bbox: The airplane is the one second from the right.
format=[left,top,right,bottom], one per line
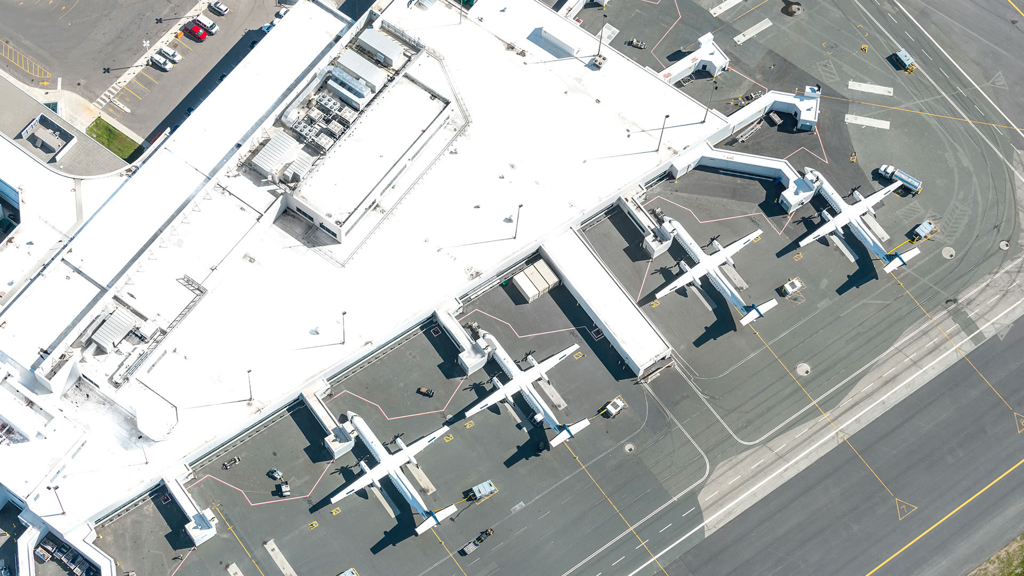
[655,216,778,326]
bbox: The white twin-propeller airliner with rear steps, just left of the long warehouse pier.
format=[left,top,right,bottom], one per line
[464,329,590,447]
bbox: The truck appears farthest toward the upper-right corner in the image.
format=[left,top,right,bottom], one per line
[893,49,917,74]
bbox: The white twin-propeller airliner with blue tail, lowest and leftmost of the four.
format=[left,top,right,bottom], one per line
[329,411,458,535]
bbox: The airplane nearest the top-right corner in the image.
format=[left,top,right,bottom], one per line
[799,167,920,273]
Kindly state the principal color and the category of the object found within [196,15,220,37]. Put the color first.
white car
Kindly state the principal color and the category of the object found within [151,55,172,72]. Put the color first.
white car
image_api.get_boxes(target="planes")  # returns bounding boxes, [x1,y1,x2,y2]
[799,167,920,273]
[655,216,778,326]
[464,329,590,447]
[329,411,458,535]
